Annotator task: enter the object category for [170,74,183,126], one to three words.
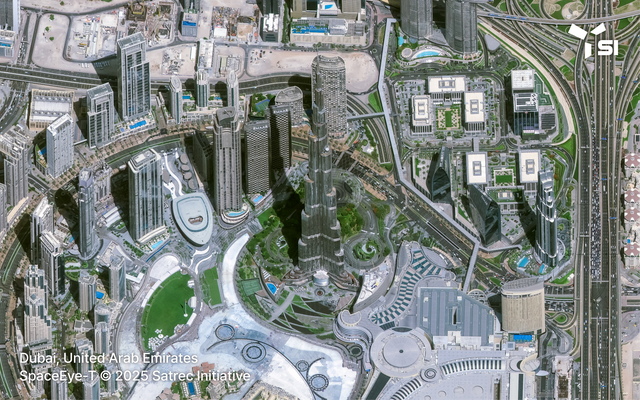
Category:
building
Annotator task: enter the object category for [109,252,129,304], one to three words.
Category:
building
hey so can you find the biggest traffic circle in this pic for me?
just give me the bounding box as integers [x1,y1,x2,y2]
[348,232,391,266]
